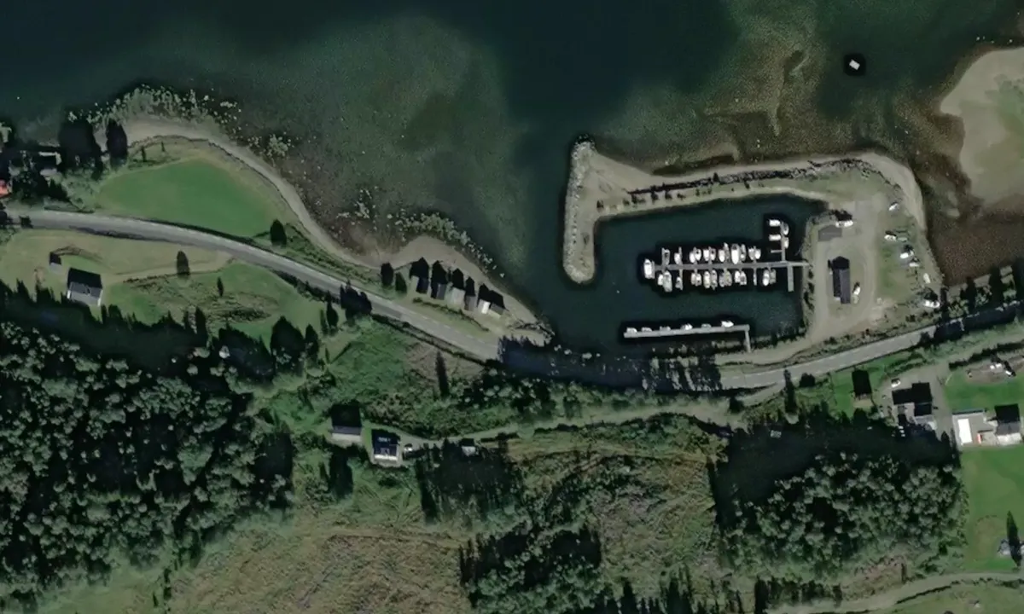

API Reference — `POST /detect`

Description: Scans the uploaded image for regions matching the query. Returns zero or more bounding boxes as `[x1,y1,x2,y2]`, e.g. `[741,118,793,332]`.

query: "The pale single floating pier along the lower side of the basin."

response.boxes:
[624,325,751,352]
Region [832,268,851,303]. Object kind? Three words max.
shed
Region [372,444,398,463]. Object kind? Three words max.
house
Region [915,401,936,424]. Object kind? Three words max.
house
